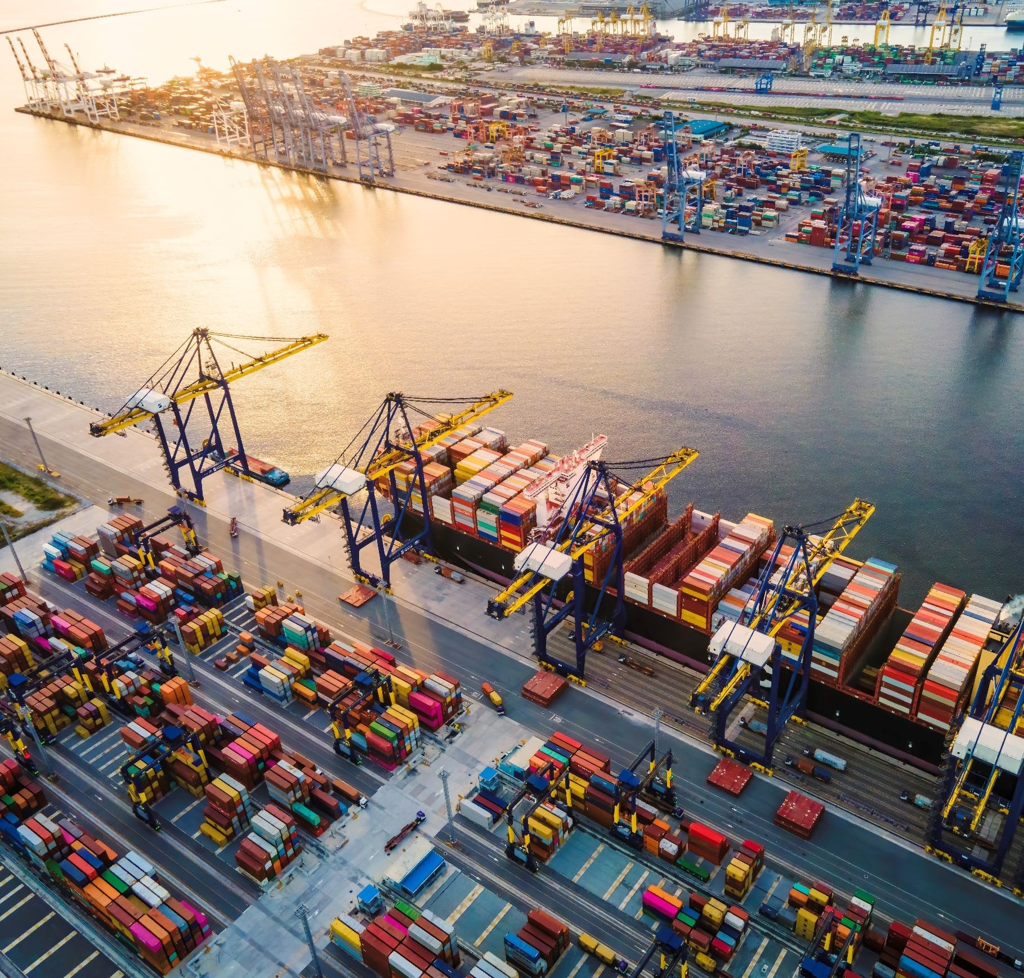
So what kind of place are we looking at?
port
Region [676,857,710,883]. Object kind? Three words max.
shipping container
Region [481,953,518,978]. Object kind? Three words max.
shipping container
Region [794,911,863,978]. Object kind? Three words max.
container crane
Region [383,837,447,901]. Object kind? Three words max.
building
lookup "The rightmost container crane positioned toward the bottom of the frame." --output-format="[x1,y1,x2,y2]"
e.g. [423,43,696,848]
[922,630,1024,882]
